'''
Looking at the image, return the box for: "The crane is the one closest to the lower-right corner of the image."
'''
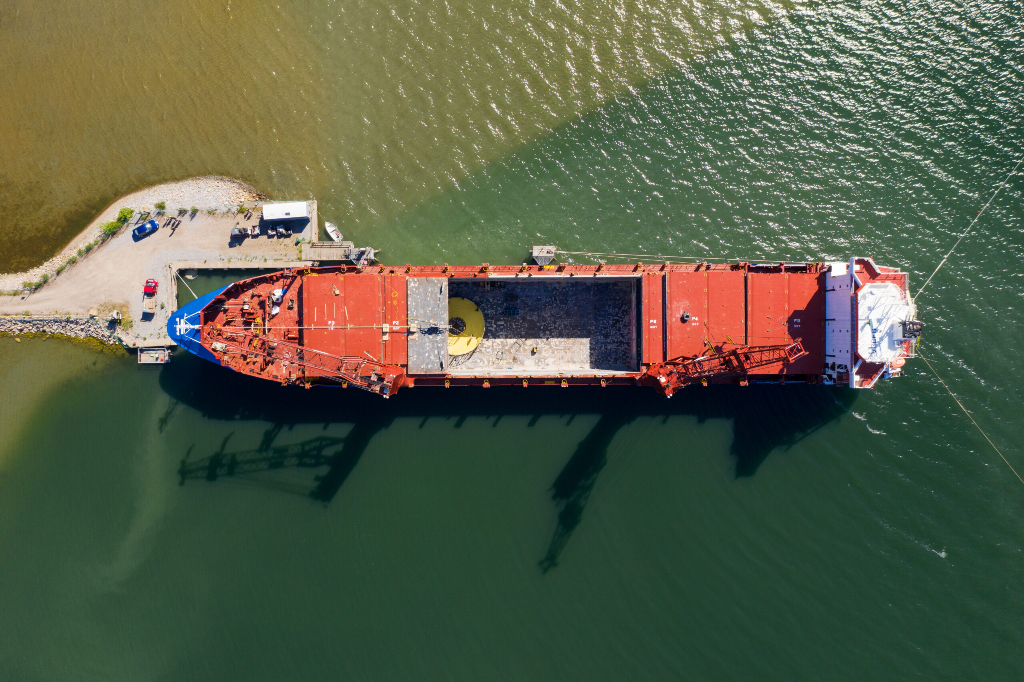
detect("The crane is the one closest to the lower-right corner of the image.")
[639,334,812,399]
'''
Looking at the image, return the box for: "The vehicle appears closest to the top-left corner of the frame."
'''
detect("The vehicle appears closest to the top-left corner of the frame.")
[131,218,162,239]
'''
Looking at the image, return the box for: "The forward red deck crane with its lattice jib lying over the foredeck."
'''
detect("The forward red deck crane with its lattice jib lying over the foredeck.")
[209,325,404,399]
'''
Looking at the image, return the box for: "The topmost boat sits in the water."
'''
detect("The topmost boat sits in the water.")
[327,222,345,241]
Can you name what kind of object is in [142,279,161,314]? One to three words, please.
vehicle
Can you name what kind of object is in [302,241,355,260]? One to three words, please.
pier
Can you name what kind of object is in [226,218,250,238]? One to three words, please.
work vehicle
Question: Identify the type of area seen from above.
port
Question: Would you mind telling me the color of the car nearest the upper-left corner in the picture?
blue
